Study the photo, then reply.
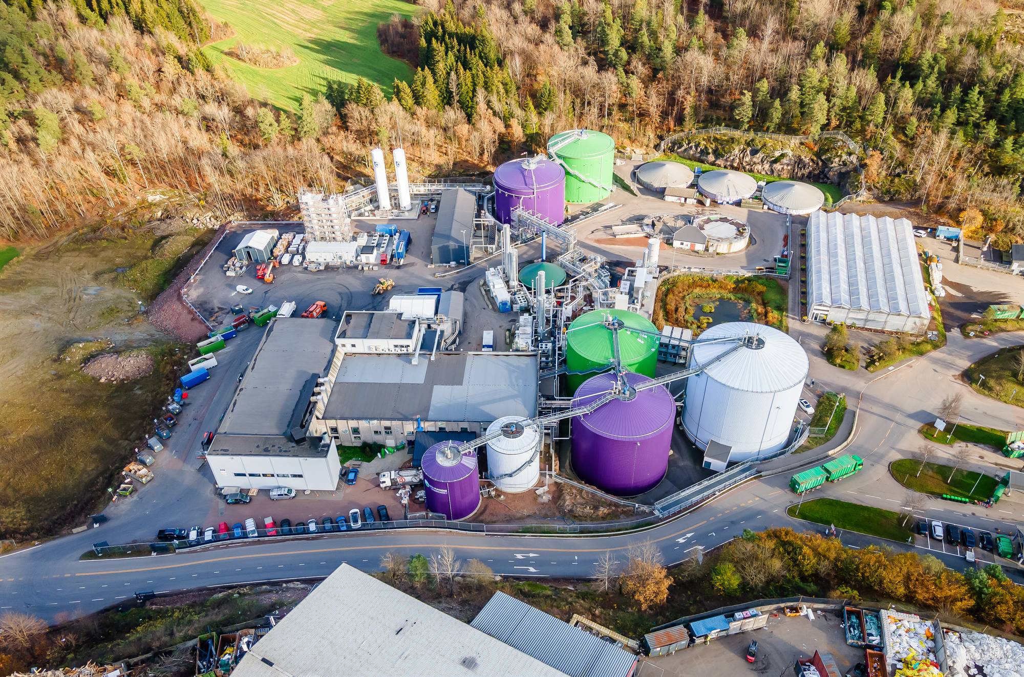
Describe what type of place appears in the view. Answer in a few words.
industrial area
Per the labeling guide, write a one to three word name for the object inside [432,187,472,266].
building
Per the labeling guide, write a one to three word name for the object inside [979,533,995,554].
car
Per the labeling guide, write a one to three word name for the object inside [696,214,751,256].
storage tank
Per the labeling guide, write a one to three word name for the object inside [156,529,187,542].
vehicle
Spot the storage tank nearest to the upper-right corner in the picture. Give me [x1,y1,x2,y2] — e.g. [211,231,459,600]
[763,184,826,222]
